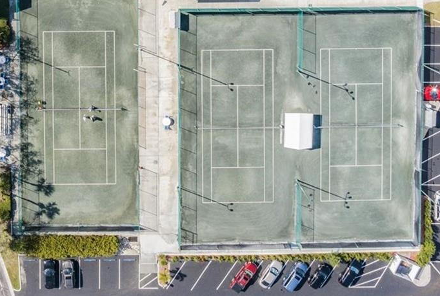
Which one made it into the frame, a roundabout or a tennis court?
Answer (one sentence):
Visible in the photo is a tennis court.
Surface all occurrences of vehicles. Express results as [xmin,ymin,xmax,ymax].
[434,190,440,222]
[40,259,57,291]
[282,261,308,294]
[425,86,440,102]
[257,261,283,291]
[229,261,255,294]
[61,259,75,291]
[338,257,364,289]
[308,261,332,290]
